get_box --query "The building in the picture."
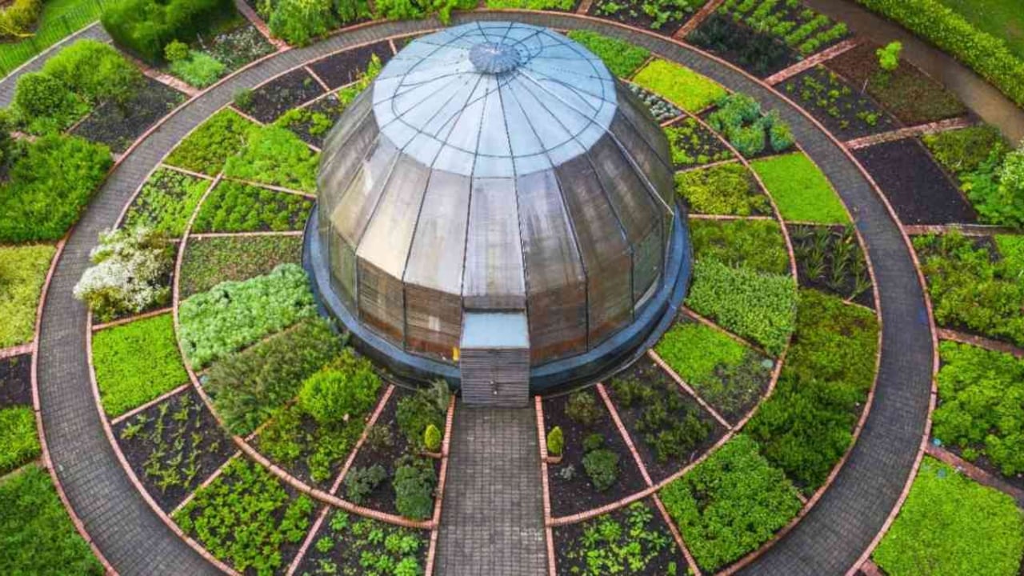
[300,26,691,406]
